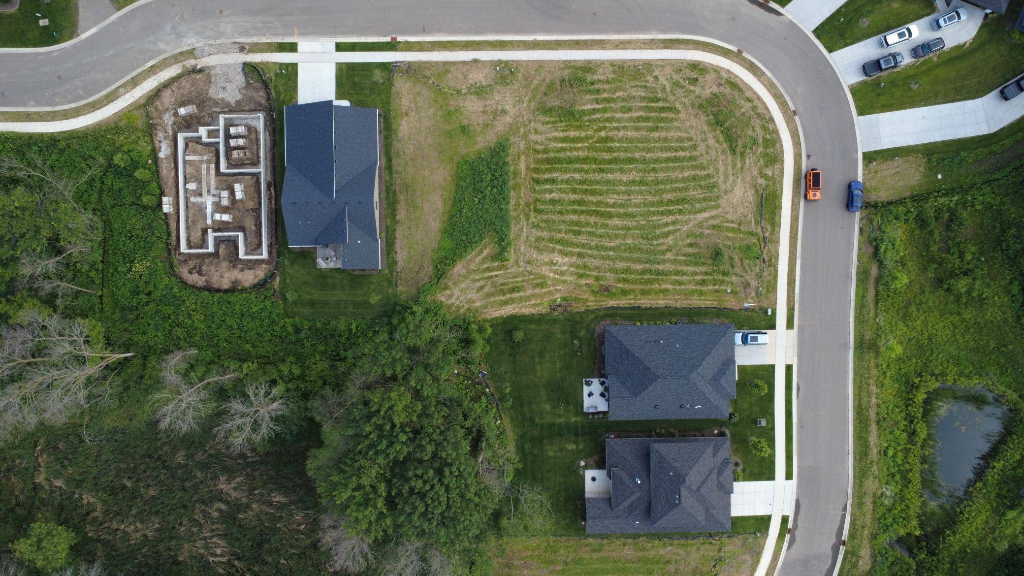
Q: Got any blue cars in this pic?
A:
Yes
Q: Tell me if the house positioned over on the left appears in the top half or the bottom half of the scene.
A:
top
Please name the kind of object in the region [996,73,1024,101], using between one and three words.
truck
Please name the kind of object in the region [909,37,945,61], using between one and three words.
car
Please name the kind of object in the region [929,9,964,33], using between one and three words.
car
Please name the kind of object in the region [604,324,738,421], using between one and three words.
house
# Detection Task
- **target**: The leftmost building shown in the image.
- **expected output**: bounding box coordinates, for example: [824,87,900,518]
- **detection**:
[281,100,382,270]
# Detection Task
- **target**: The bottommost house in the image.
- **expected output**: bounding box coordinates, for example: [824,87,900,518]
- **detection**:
[585,436,733,534]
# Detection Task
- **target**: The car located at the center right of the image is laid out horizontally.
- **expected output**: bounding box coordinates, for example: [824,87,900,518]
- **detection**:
[733,330,767,347]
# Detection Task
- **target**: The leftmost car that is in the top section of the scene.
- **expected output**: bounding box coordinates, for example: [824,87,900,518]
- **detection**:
[803,171,820,201]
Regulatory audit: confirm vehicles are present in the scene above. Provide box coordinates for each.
[929,9,964,33]
[733,330,767,347]
[844,182,863,212]
[860,55,900,78]
[909,37,945,61]
[996,73,1024,101]
[803,171,820,201]
[879,27,914,49]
